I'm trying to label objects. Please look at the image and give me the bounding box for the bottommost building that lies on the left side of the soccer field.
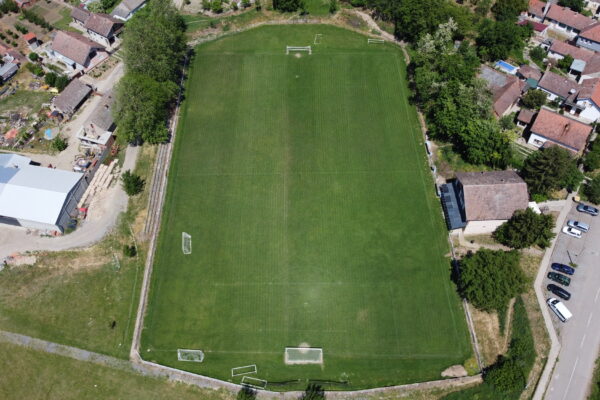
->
[0,160,91,237]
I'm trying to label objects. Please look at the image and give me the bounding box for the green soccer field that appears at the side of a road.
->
[139,23,480,391]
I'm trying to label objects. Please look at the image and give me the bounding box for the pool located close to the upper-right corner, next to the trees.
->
[495,60,520,76]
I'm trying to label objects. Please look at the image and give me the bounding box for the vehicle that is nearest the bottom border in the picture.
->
[545,299,575,323]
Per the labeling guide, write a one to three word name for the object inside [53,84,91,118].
shed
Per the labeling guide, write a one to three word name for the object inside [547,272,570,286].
vehicle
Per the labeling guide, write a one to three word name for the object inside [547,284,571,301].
car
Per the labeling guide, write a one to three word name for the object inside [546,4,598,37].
house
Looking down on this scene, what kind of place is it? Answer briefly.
sports ground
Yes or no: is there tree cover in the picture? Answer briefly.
Yes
